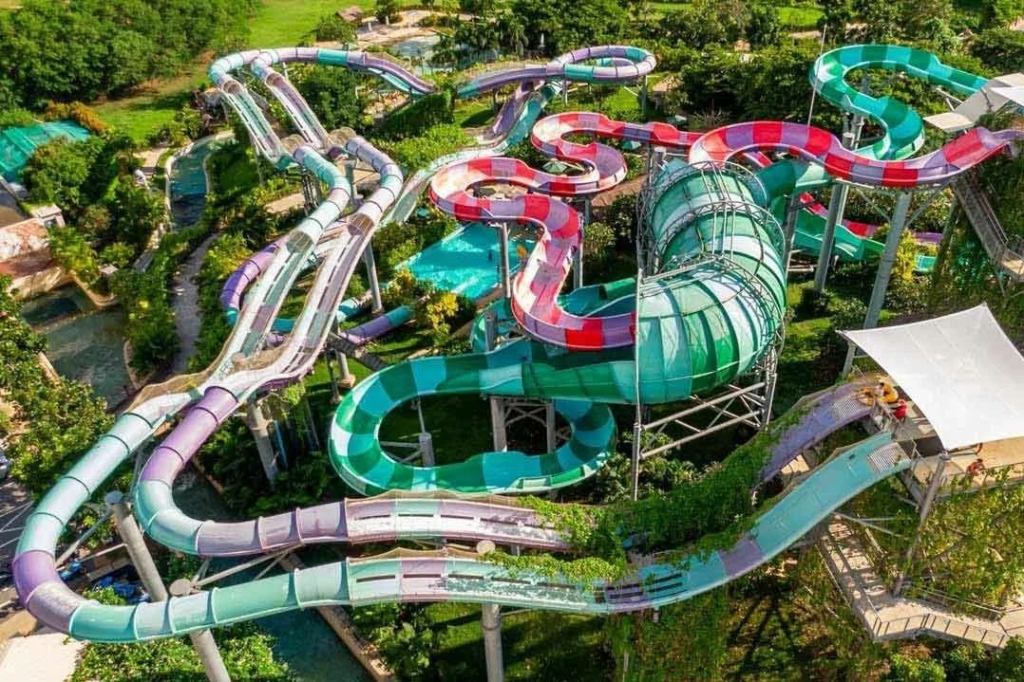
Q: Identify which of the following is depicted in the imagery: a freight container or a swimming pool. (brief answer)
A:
swimming pool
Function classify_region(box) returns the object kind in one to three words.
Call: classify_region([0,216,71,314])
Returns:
house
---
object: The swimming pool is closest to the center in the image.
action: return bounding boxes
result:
[391,225,536,302]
